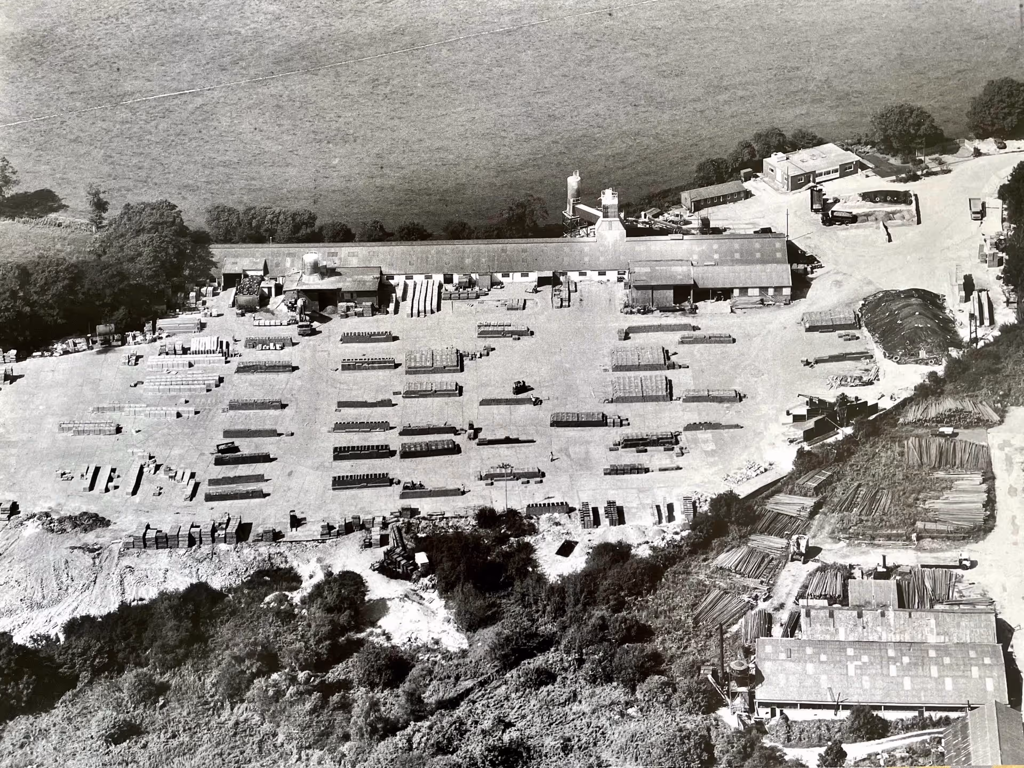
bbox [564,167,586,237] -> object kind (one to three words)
silo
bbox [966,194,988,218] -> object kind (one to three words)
truck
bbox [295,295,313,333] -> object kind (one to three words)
vehicle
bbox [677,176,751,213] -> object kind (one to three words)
shed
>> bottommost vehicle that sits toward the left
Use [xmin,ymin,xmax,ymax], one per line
[286,508,301,536]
